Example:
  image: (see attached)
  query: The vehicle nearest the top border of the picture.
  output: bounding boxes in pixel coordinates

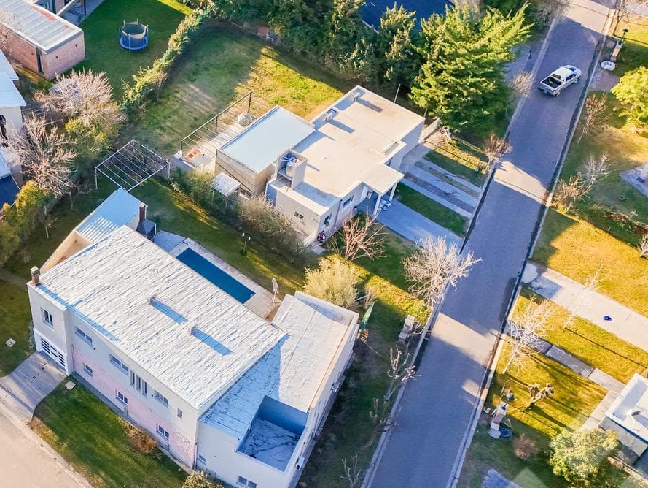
[542,70,585,99]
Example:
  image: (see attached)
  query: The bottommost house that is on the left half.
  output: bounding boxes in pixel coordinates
[23,188,359,488]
